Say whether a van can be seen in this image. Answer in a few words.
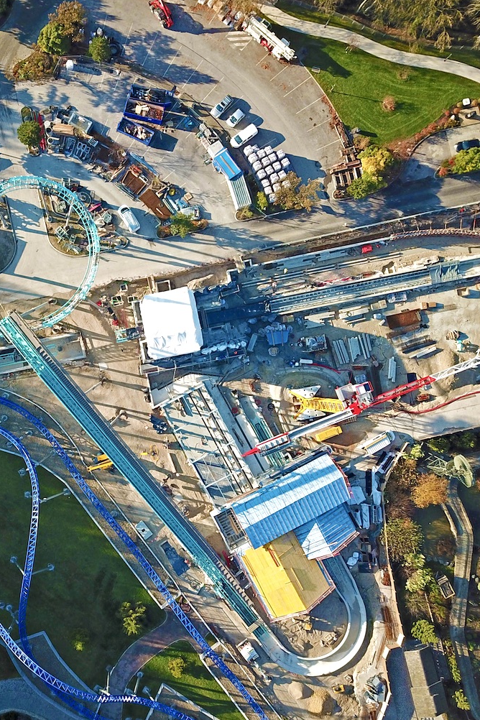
Yes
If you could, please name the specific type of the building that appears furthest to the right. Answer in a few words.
house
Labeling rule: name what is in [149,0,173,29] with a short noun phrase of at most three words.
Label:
work vehicle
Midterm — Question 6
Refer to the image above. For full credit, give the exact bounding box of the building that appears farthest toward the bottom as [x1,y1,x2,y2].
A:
[400,641,448,718]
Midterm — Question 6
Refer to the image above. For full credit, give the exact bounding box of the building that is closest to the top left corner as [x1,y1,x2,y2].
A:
[139,288,205,360]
